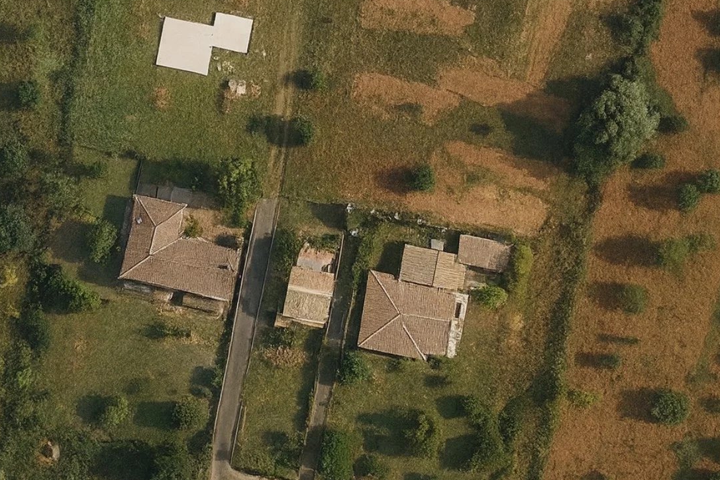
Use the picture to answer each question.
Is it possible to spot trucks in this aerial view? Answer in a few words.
No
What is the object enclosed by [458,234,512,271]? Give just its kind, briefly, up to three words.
barn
